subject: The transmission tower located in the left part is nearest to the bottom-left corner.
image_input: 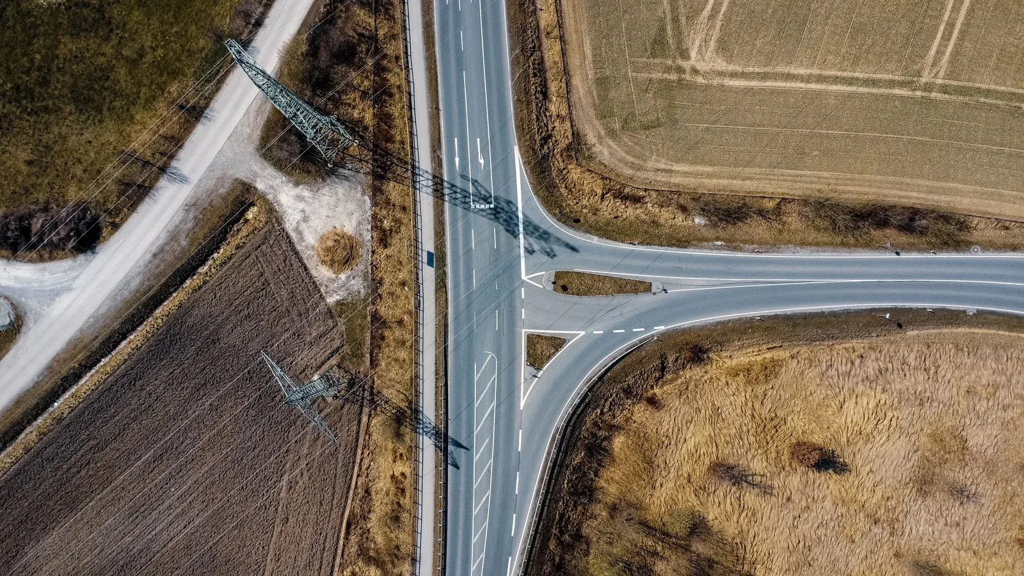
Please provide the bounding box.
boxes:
[259,352,351,443]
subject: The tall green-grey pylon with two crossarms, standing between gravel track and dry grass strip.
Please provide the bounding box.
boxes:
[219,38,359,168]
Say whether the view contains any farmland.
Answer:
Yes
